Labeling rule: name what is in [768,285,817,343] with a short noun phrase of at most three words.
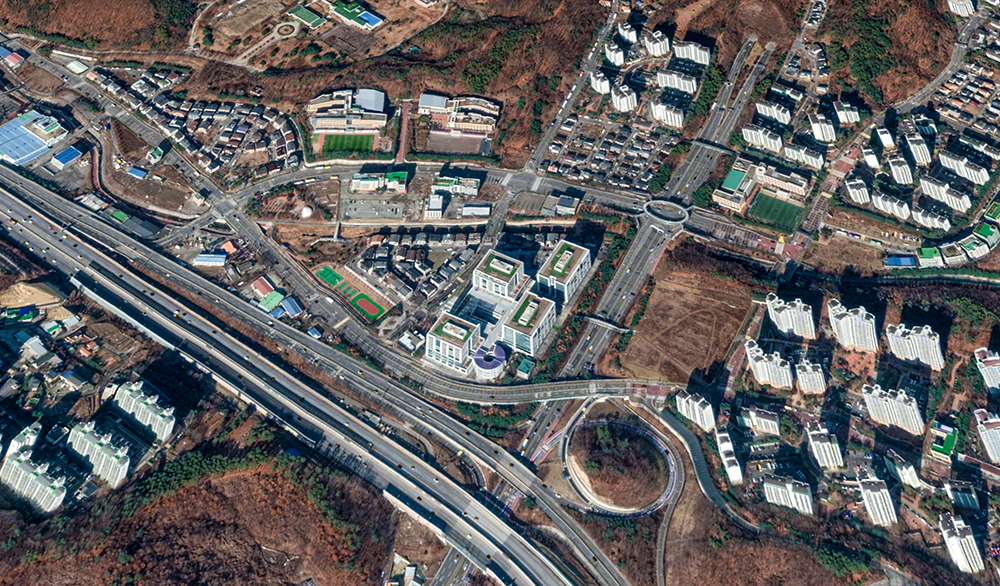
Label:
building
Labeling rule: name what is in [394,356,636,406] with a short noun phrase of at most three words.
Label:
bridge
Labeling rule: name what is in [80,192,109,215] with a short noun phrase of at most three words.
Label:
shed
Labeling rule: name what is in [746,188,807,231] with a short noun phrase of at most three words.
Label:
soccer field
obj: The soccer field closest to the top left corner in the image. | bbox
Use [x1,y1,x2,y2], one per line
[312,129,380,151]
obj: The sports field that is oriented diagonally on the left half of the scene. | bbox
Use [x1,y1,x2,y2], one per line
[313,262,393,321]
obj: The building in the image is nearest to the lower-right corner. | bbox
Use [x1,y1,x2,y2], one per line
[938,515,979,570]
